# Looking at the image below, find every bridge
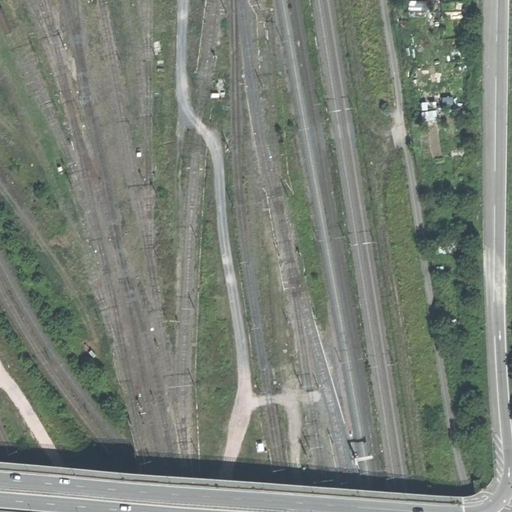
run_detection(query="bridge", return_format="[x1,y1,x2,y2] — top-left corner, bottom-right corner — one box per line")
[0,462,474,512]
